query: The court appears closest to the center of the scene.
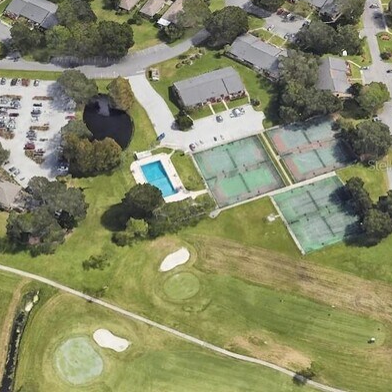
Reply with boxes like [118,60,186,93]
[190,136,288,206]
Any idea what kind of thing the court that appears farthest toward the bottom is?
tennis court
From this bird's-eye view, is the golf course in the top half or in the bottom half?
bottom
